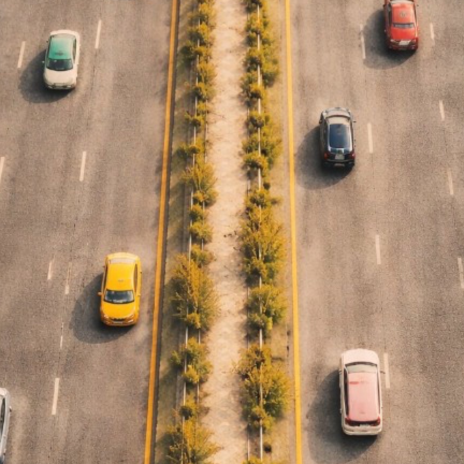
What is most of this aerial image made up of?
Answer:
paved ground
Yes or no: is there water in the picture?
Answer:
No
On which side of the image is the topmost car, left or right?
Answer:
right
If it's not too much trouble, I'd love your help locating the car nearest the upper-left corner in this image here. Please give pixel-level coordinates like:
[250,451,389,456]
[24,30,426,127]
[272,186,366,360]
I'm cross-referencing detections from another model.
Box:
[41,30,79,89]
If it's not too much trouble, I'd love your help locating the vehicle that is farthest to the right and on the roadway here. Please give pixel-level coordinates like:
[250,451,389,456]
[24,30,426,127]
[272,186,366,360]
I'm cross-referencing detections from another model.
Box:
[382,0,420,50]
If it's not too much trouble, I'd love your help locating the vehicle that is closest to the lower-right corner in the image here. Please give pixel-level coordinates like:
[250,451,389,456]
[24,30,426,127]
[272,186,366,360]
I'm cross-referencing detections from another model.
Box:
[337,349,385,435]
